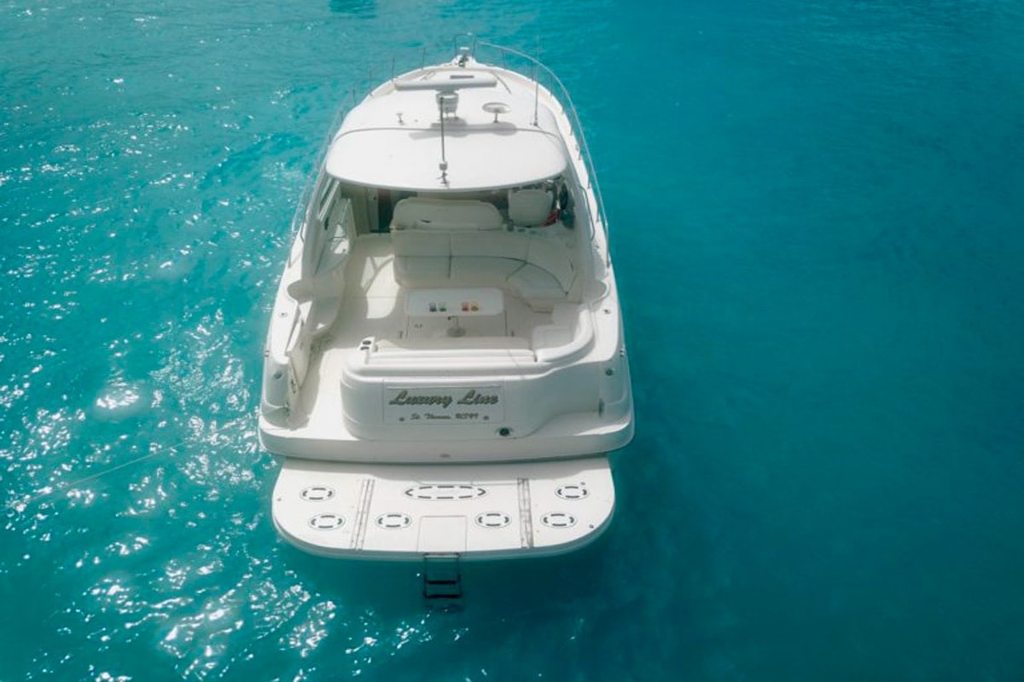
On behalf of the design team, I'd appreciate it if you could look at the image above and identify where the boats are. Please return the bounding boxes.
[260,27,632,598]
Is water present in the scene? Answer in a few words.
Yes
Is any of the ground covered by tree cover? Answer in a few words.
No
